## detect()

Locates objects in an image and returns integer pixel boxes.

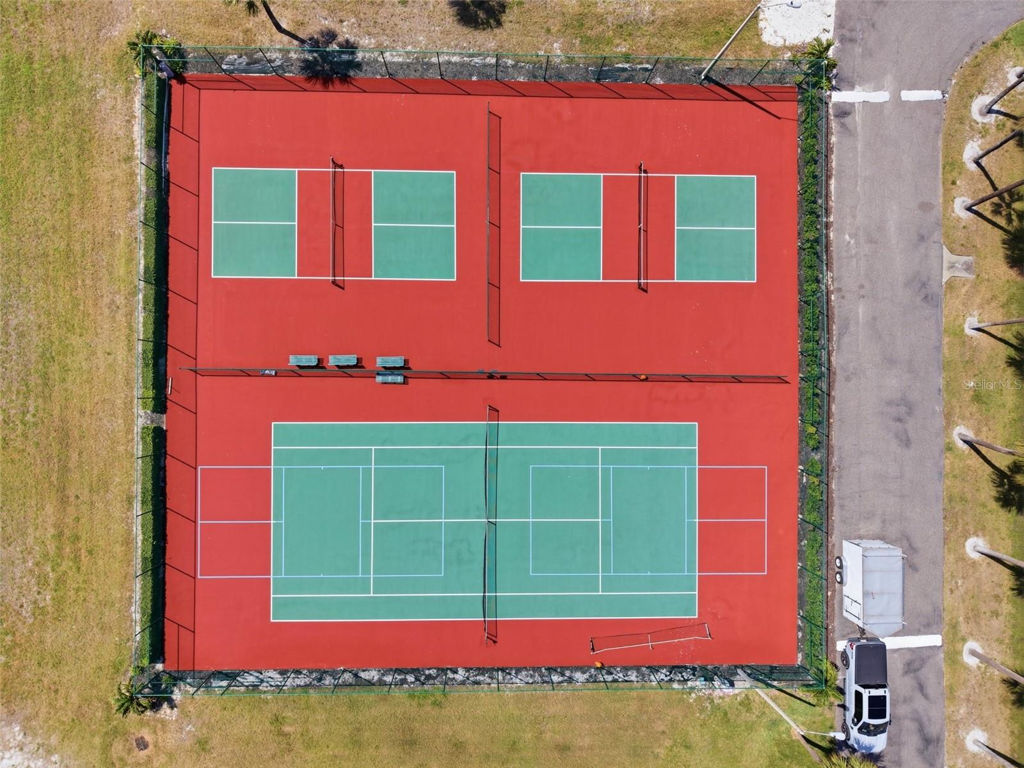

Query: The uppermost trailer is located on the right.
[835,539,906,638]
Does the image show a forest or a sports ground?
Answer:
sports ground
